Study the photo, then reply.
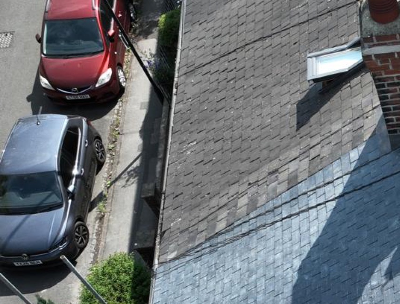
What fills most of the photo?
buildings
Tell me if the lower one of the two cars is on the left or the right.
left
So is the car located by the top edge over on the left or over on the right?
left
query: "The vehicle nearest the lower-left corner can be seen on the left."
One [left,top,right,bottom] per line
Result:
[0,112,107,275]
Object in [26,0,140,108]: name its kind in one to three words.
car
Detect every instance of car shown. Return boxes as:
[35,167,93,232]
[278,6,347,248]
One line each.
[26,0,140,108]
[0,112,107,275]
